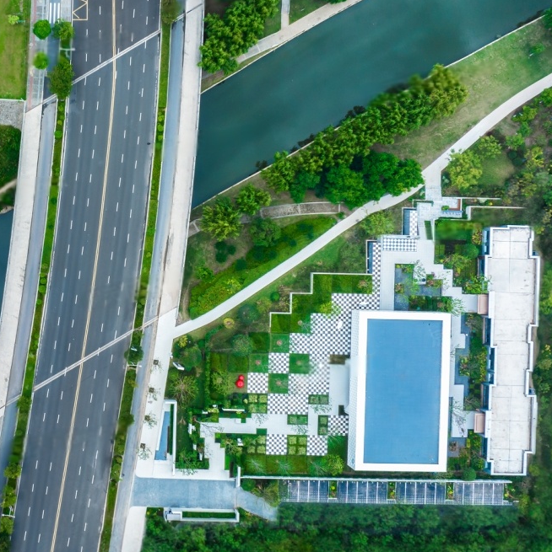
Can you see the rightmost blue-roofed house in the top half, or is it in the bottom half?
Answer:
bottom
